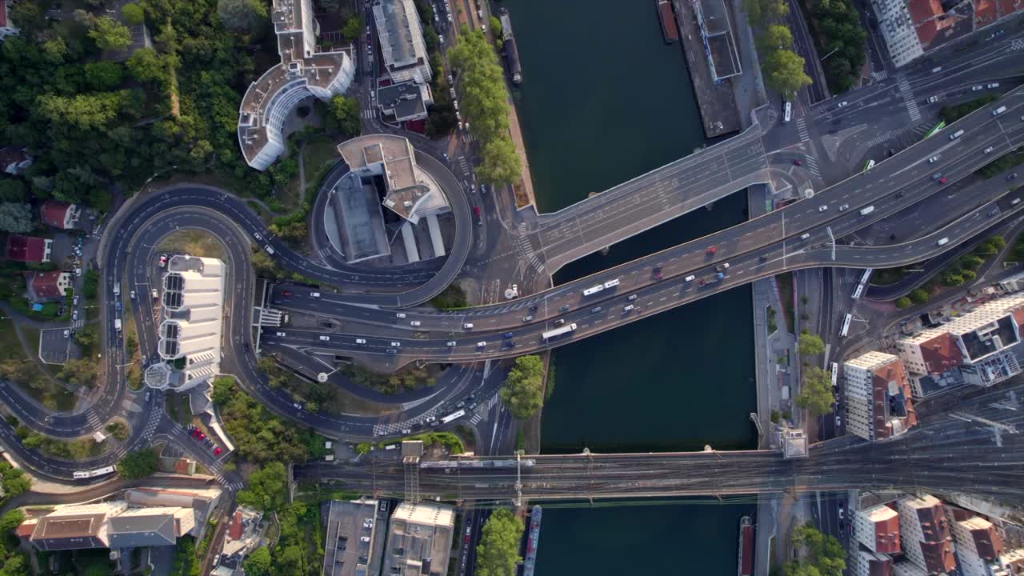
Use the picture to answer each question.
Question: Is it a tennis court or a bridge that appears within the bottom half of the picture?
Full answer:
You can see a bridge within the bottom half of the picture.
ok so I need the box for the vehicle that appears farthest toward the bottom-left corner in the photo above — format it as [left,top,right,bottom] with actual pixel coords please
[70,466,115,481]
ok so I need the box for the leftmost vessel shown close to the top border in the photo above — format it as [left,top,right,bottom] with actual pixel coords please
[499,7,521,84]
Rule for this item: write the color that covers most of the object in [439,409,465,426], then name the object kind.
white vehicle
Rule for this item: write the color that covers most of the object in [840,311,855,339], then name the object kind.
white vehicle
